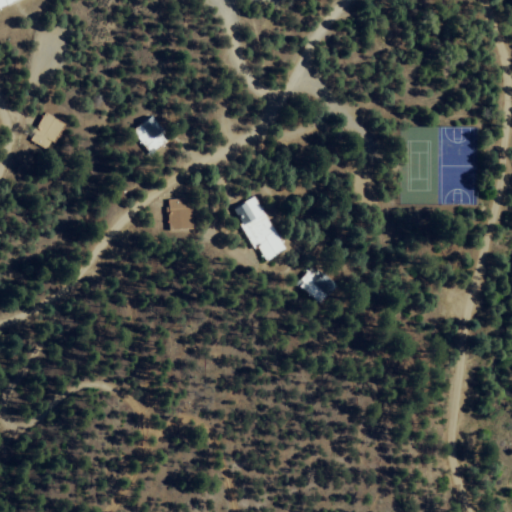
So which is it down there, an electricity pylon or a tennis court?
tennis court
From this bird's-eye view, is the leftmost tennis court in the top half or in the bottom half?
top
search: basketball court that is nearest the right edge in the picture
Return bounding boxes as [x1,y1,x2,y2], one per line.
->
[438,128,477,204]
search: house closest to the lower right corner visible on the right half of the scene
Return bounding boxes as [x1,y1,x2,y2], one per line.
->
[298,270,334,302]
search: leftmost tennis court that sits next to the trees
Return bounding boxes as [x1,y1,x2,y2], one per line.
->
[401,128,438,204]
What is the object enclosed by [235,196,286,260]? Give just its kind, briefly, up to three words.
house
